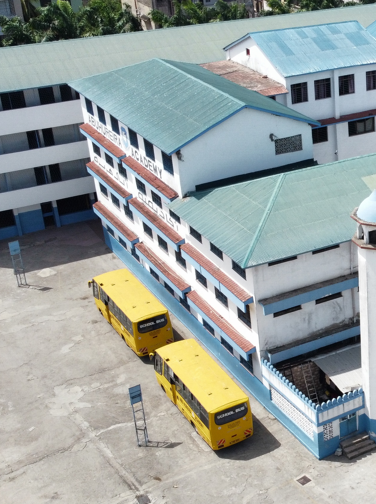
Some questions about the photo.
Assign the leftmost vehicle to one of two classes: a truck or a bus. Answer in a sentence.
The leftmost vehicle in the image is a bus.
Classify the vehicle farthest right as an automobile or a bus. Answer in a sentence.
The vehicle farthest right is a bus.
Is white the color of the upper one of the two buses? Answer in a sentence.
No, the upper one of the two buses is yellow.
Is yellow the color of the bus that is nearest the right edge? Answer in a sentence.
Yes, the bus that is nearest the right edge appears yellow.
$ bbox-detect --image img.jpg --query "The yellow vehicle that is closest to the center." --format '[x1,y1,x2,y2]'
[92,275,171,353]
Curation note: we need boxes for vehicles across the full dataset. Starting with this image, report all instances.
[92,275,171,353]
[151,347,251,448]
